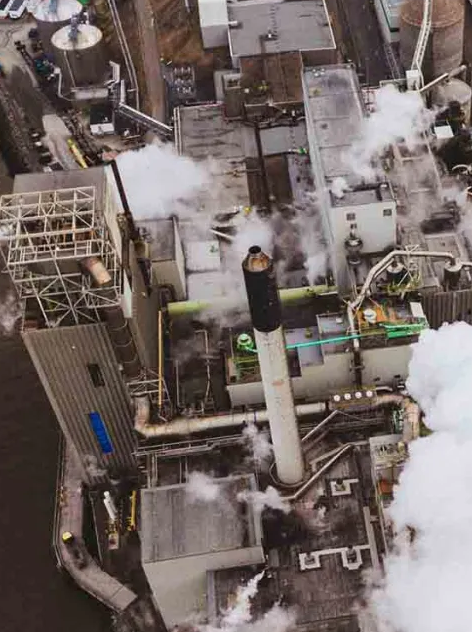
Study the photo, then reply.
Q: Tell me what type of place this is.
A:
industrial area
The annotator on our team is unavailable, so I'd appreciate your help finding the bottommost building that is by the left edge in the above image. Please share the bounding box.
[2,163,179,475]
